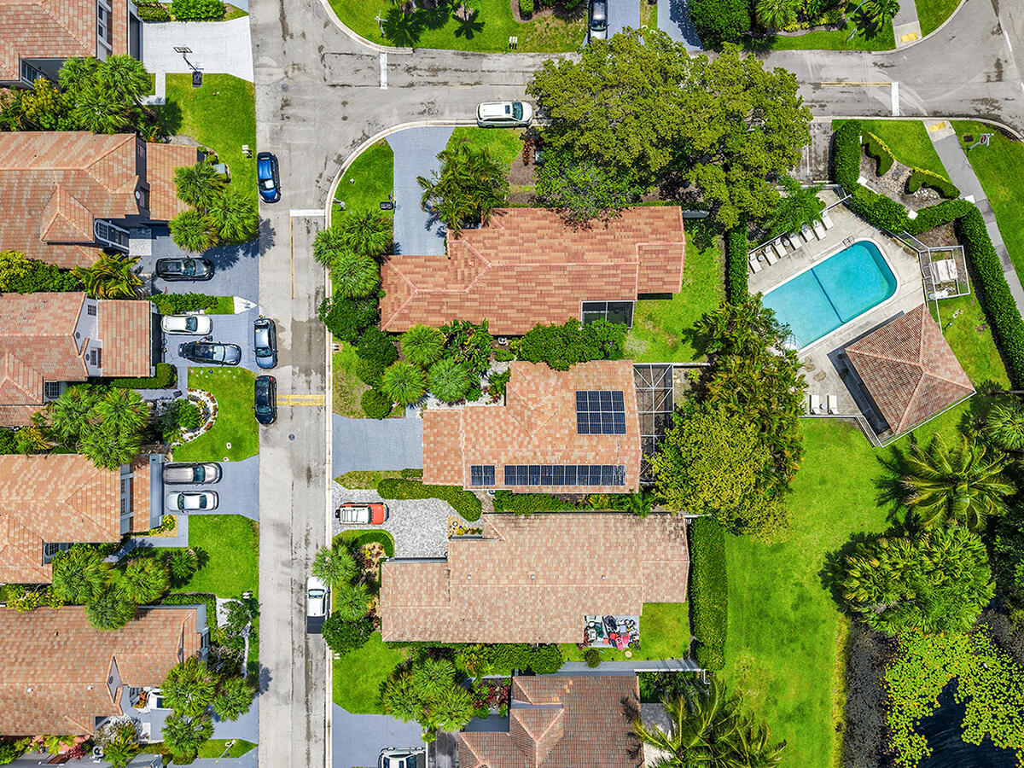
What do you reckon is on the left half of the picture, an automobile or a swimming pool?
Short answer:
automobile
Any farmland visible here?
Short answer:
No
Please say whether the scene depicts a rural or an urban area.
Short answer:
urban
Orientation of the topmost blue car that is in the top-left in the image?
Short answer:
from top to bottom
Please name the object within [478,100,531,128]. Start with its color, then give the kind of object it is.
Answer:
white car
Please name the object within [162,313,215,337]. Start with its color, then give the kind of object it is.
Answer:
white car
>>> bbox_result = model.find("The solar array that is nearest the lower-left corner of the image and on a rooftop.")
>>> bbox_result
[470,466,495,486]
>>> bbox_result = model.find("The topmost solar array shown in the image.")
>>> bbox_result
[576,391,625,434]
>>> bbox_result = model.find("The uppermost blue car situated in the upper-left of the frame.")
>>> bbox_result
[256,153,281,204]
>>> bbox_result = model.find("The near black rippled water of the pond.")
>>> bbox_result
[872,622,1024,768]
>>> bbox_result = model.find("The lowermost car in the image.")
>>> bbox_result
[378,748,428,768]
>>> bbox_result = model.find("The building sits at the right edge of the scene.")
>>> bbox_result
[834,302,977,437]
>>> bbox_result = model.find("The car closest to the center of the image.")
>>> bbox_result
[338,502,391,527]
